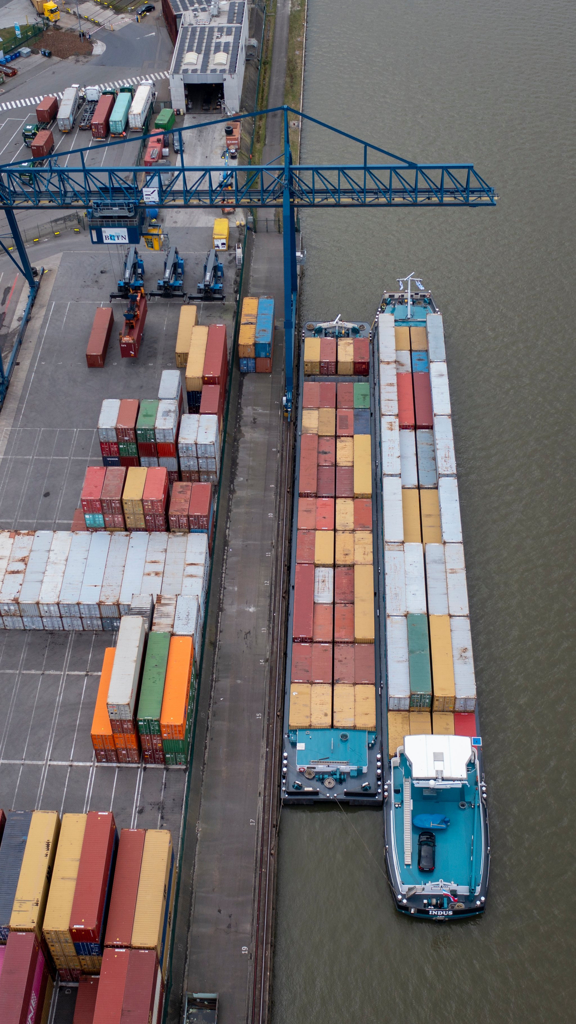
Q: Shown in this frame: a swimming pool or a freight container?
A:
freight container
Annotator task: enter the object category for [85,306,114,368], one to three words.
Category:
shipping container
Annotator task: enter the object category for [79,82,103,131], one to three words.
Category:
truck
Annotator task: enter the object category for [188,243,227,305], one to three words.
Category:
work vehicle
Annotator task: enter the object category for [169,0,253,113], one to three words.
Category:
building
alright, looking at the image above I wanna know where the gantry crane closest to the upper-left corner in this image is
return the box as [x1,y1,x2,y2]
[0,104,502,416]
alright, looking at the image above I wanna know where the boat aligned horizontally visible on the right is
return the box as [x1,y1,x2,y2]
[412,813,451,829]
